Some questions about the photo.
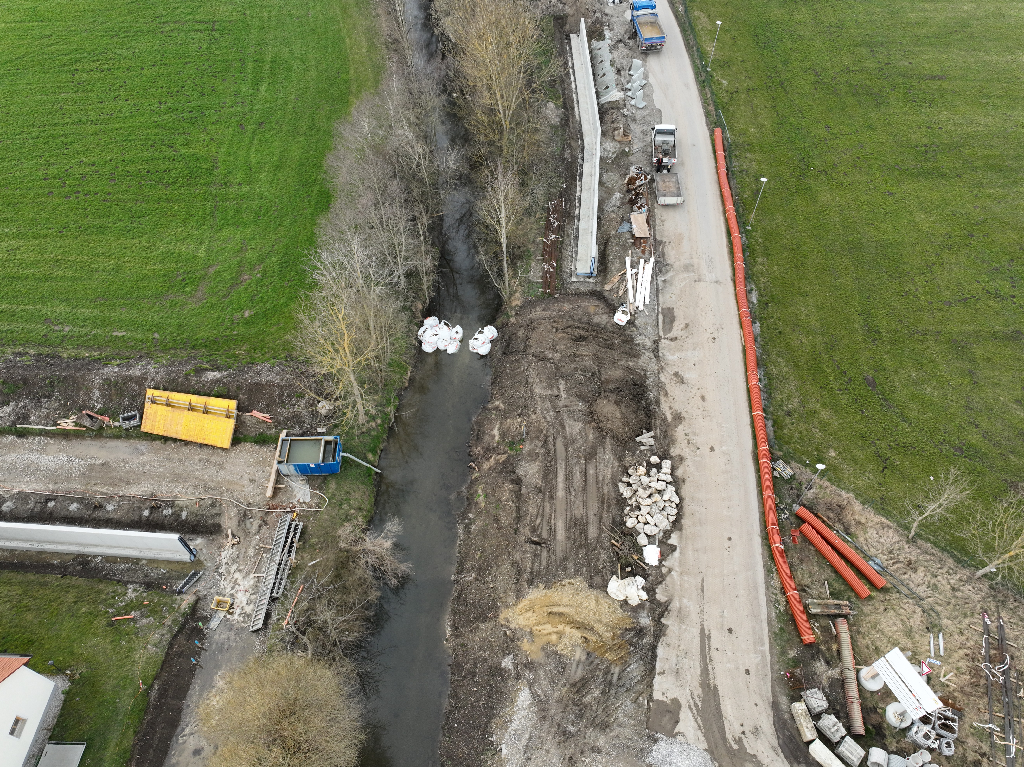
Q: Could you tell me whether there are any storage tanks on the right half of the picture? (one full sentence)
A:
No, no storage tank can be made out on the right half of the picture.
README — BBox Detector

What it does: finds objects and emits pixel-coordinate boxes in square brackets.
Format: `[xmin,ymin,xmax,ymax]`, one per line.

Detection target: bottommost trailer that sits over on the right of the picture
[653,167,684,207]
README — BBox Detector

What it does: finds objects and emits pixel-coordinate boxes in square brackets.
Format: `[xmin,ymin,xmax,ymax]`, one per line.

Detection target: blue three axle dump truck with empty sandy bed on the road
[623,0,667,54]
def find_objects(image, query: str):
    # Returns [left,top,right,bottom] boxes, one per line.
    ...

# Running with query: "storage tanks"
[274,435,345,478]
